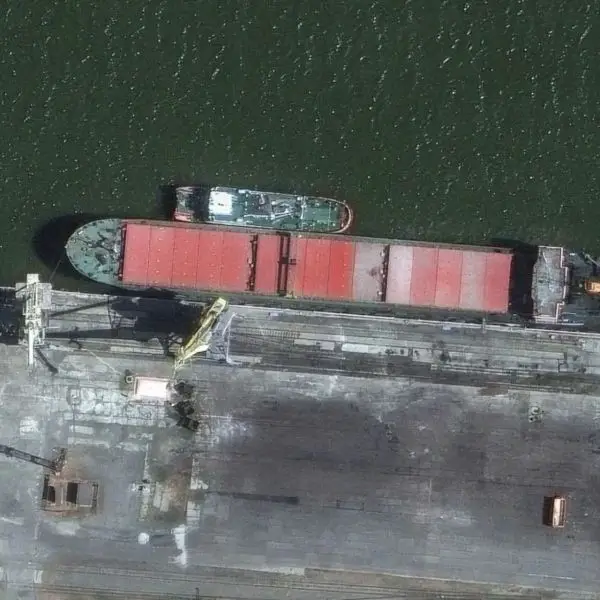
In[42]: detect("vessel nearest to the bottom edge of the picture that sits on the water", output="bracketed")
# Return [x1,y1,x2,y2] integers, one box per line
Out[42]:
[66,216,600,326]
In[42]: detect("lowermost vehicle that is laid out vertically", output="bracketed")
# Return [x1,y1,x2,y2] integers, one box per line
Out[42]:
[552,495,567,527]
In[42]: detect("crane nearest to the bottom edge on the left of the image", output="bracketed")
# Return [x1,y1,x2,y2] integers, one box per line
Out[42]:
[0,446,99,514]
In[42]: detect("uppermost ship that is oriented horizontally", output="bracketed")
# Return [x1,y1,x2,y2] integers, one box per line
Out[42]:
[174,186,354,232]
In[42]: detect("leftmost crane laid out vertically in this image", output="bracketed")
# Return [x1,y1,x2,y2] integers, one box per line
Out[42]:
[15,274,57,368]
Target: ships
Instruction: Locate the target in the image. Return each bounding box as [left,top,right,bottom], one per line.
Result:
[66,216,600,326]
[174,186,354,232]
